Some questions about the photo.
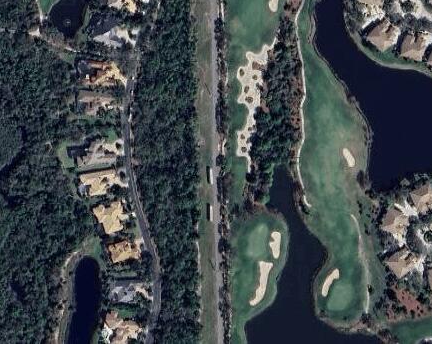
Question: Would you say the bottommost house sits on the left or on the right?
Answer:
left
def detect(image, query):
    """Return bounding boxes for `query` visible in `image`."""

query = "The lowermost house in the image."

[103,312,141,341]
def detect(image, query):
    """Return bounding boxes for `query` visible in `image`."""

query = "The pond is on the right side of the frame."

[238,165,390,344]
